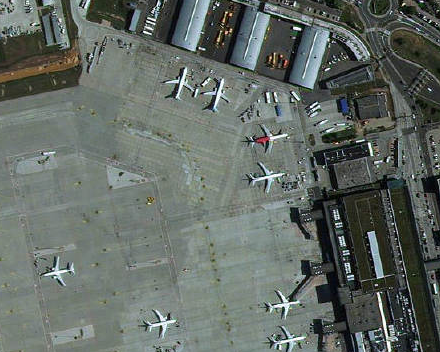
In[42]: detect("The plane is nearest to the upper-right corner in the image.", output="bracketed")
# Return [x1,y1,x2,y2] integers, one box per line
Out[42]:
[249,121,288,156]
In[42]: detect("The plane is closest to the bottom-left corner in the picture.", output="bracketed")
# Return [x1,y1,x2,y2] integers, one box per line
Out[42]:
[40,256,74,287]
